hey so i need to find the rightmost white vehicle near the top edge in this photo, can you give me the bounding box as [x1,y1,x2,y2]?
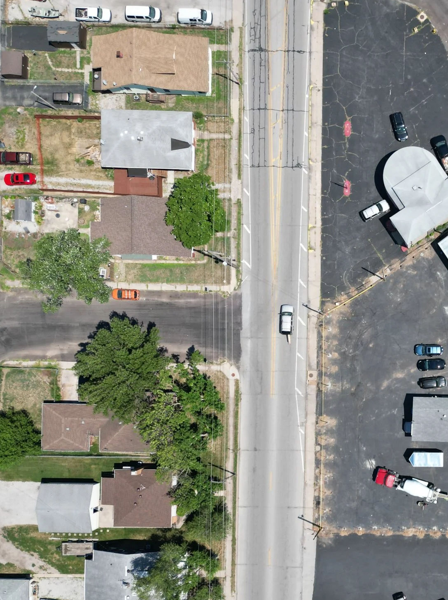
[175,7,214,25]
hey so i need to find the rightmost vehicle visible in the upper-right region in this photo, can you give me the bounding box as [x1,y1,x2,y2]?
[432,135,448,174]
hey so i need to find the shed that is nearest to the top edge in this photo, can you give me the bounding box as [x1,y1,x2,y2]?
[45,19,86,48]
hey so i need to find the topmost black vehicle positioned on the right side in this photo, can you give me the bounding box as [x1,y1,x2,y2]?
[390,112,408,144]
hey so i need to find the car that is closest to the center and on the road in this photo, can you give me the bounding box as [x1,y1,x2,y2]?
[279,305,294,335]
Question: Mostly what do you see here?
paved ground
